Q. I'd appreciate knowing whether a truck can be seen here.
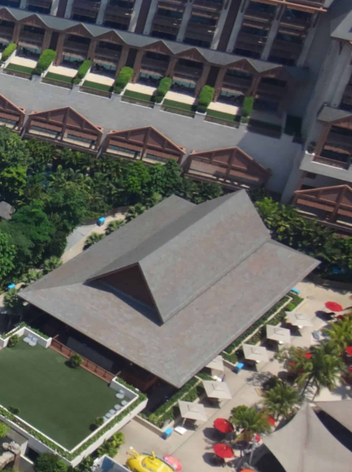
No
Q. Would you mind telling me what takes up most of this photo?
buildings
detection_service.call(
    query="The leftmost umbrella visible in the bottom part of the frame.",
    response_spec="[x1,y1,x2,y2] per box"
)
[175,399,210,430]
